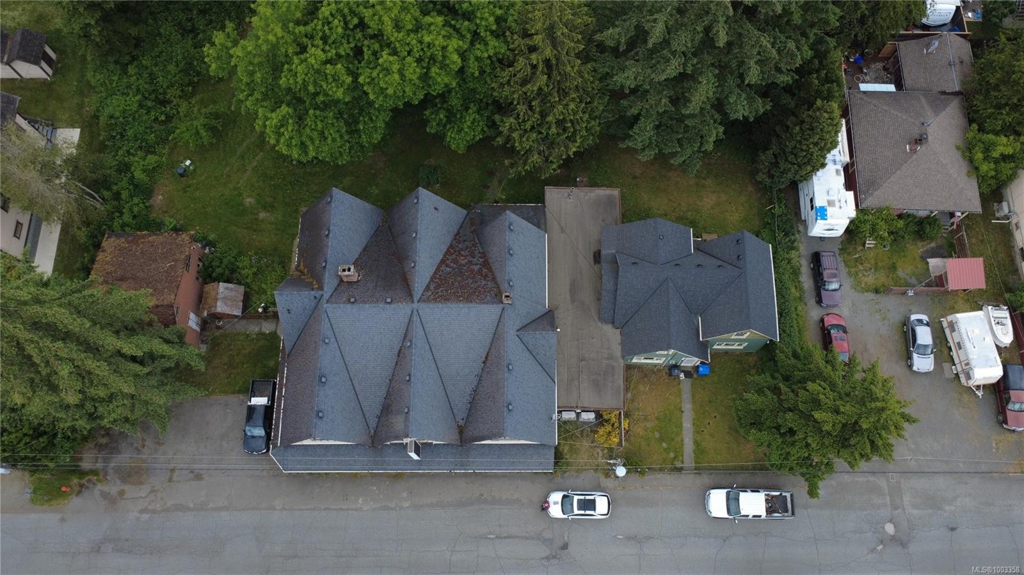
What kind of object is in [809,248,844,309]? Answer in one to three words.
car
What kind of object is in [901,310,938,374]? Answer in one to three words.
car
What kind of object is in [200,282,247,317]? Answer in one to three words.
shed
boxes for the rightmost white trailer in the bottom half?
[934,307,1003,402]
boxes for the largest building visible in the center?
[269,187,561,474]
